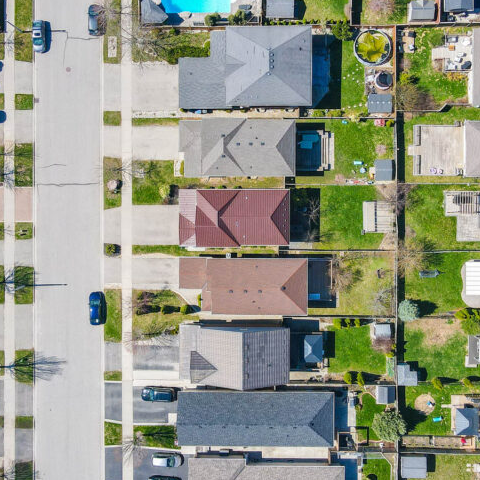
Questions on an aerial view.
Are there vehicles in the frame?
Yes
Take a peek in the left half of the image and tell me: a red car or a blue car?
blue car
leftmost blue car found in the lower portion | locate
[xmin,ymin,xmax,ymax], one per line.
[88,291,105,324]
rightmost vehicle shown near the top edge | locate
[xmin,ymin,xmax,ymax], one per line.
[88,5,103,36]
